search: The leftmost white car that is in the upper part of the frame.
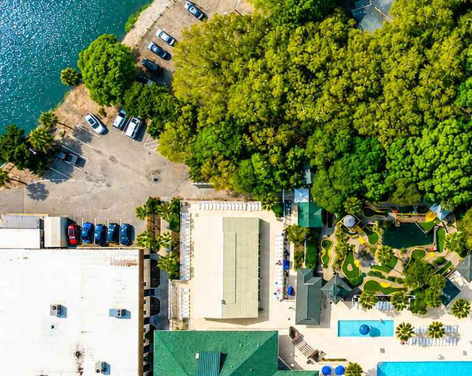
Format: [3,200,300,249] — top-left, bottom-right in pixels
[86,113,104,134]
